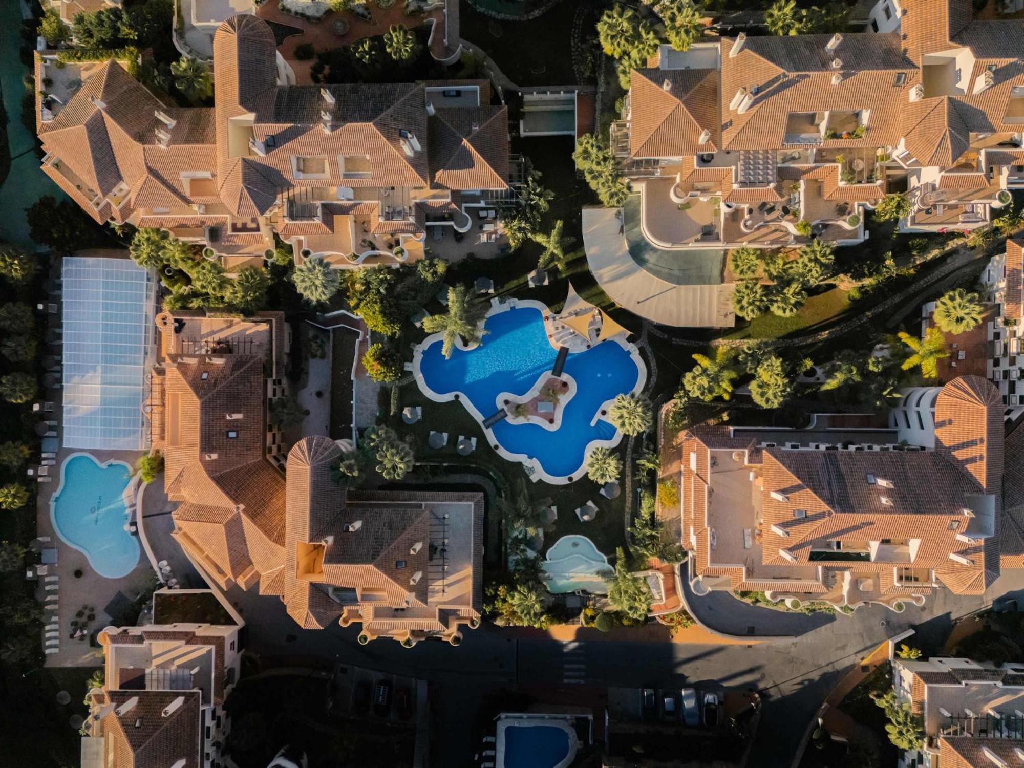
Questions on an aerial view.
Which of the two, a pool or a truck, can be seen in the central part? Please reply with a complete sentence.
You can see a pool in the central part.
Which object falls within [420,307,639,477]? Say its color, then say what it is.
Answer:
blue swimming pool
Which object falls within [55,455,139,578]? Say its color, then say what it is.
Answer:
blue swimming pool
